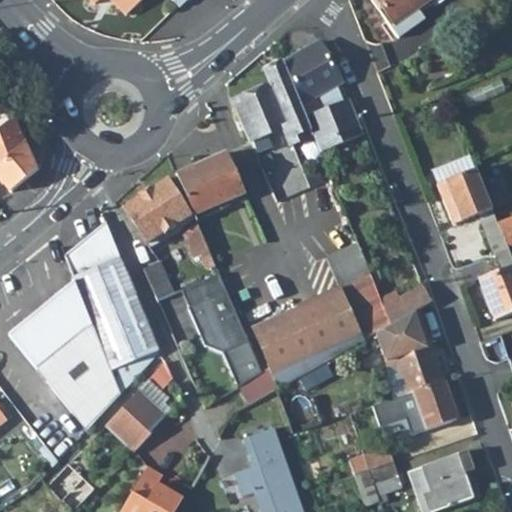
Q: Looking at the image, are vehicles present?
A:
Yes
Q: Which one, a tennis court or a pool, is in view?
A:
pool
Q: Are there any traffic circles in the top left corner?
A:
Yes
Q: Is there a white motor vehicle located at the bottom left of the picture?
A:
Yes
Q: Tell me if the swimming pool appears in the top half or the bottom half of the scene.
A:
bottom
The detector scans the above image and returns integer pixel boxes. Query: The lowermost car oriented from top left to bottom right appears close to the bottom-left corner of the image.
[58,413,78,435]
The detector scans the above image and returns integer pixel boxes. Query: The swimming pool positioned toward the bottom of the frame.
[292,398,318,422]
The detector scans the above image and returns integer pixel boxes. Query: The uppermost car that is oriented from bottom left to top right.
[210,49,233,70]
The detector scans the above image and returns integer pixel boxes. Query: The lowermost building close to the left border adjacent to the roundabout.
[9,225,160,428]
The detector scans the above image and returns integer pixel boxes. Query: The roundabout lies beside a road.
[52,40,185,170]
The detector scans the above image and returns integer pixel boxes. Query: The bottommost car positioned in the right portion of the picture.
[493,340,508,361]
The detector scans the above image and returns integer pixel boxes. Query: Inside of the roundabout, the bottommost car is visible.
[98,130,122,144]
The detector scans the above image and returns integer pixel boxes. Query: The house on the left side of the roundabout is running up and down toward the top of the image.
[0,112,40,192]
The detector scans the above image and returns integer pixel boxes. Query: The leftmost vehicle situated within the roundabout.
[62,96,79,117]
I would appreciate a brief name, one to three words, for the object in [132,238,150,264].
vehicle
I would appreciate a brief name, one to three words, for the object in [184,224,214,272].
shed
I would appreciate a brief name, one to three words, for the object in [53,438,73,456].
car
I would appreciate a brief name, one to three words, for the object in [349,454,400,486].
house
